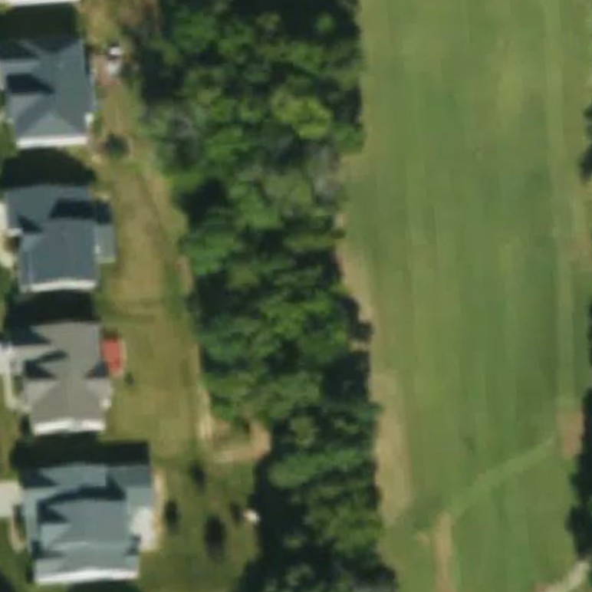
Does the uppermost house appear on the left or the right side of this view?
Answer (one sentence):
The uppermost house sits on the left side.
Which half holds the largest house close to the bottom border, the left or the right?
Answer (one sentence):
It is on the left.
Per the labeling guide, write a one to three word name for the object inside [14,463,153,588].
house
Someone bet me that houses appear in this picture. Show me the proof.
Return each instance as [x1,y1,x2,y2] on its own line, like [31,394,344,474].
[0,321,123,431]
[1,181,117,294]
[0,40,99,146]
[14,463,153,588]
